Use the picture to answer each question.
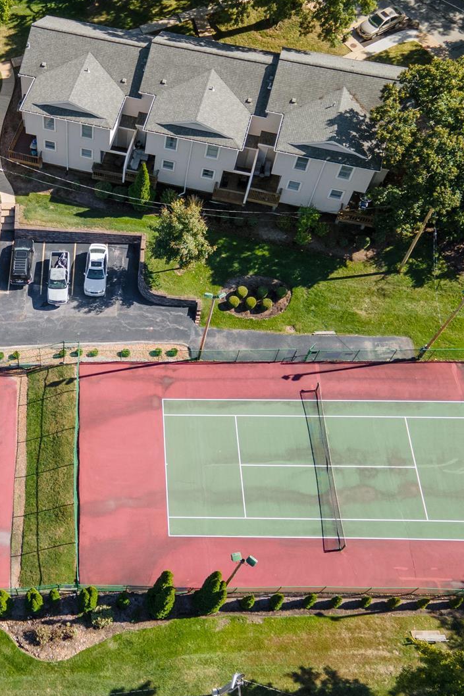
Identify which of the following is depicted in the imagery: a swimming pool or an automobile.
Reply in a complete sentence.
This aerial view contains an automobile.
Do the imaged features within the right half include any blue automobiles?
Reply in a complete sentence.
No, there's no blue automobile to be seen within the right half.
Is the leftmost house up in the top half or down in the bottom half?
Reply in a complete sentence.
The leftmost house is in the top half of the image.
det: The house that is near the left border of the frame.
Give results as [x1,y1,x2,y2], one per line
[9,16,157,181]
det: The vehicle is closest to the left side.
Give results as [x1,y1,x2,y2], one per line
[8,239,35,287]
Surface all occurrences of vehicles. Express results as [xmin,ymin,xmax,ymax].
[55,250,63,267]
[83,244,110,293]
[359,10,407,41]
[43,249,72,302]
[8,239,35,287]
